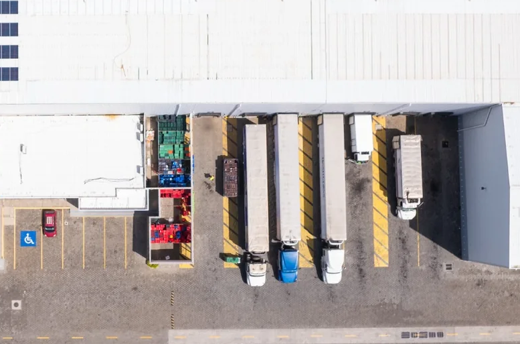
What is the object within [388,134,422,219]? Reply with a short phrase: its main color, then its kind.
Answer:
white truck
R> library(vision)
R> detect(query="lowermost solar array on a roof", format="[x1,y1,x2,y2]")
[0,67,19,80]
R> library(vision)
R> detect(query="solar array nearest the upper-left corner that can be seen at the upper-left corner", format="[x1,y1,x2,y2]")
[0,1,19,14]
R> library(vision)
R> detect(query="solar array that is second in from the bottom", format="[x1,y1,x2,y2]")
[0,45,19,59]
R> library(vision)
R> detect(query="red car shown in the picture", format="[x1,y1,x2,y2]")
[41,210,58,239]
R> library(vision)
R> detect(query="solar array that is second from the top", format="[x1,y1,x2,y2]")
[0,22,19,37]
